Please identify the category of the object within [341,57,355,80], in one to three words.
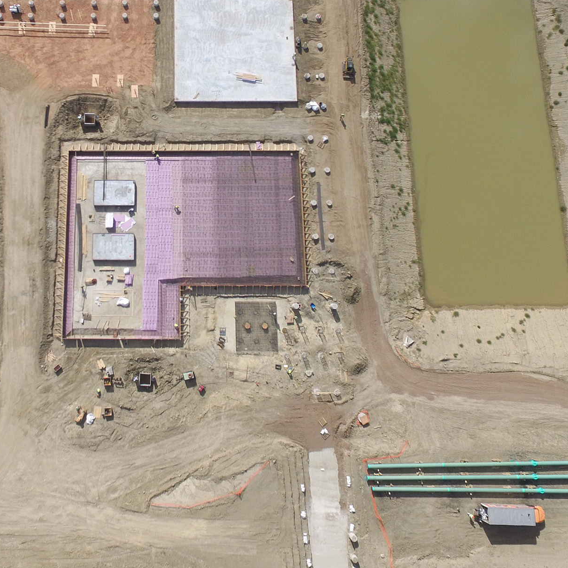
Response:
vehicle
